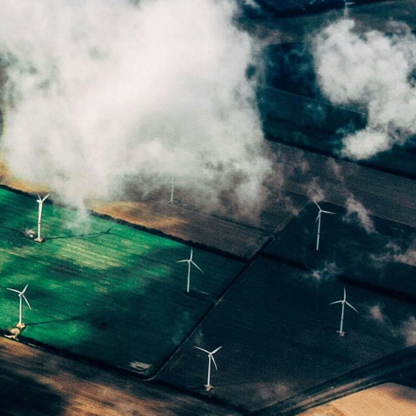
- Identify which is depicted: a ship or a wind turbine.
wind turbine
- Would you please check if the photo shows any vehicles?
No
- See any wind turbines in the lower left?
Yes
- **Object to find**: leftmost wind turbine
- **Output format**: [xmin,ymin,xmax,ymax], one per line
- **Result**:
[6,284,27,328]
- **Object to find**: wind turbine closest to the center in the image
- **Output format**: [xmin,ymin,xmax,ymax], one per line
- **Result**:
[163,163,186,205]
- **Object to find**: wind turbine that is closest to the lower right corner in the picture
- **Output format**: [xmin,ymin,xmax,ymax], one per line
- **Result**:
[328,289,354,335]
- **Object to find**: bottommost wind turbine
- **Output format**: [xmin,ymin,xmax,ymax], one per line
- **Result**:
[193,347,222,389]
